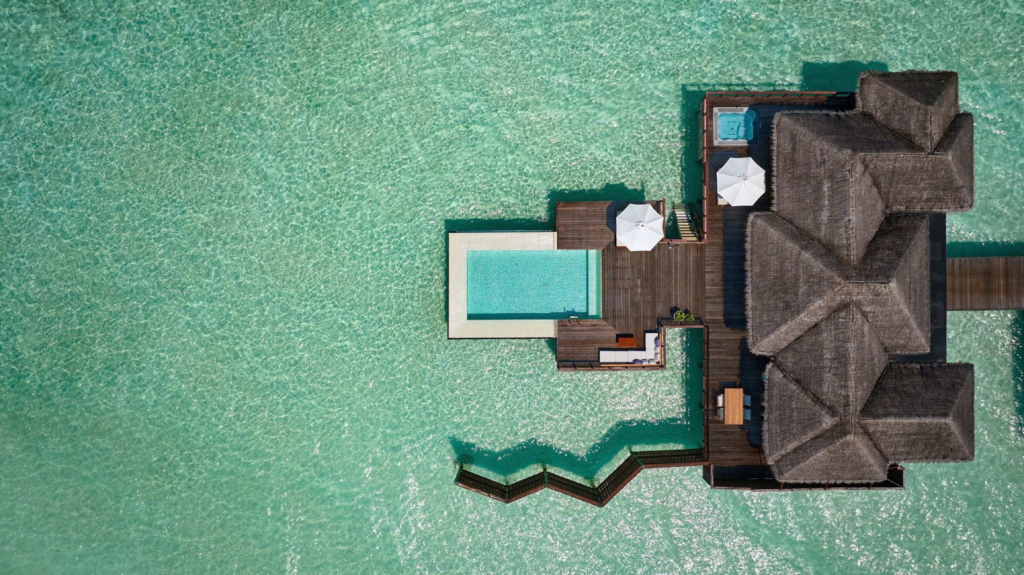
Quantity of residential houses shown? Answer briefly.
1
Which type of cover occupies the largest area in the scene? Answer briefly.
water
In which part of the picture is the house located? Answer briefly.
right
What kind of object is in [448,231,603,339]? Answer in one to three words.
swimming pool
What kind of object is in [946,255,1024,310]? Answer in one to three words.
pier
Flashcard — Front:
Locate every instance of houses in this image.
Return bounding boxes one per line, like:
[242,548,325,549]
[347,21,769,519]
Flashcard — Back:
[742,67,975,484]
